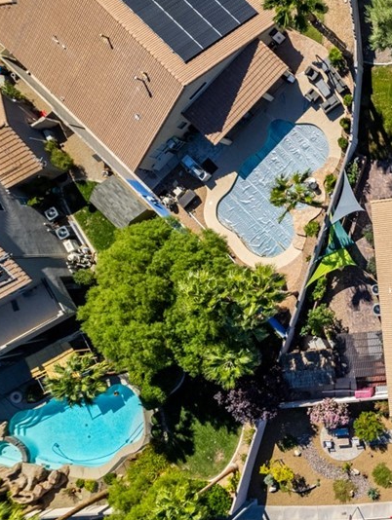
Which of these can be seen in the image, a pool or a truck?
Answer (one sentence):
The image shows a pool.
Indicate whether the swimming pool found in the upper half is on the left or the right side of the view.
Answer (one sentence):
The swimming pool found in the upper half sits on the right side.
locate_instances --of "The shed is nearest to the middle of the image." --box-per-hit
[90,173,162,227]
